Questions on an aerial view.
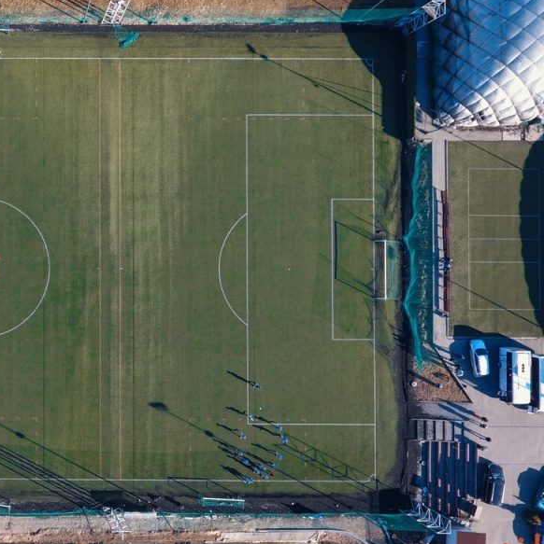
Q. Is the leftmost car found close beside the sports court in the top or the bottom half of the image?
bottom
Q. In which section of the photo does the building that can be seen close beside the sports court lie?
top right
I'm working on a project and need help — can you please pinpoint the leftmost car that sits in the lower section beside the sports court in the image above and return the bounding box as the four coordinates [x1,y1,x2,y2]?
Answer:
[465,338,489,378]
